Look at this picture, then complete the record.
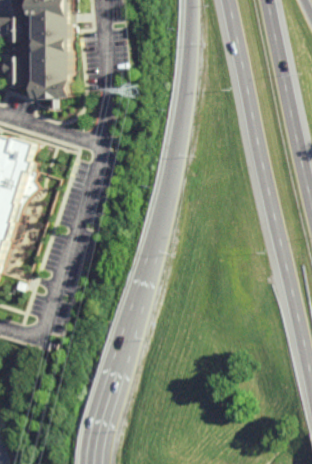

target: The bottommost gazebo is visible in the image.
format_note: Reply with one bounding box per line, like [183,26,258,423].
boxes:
[16,280,30,292]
